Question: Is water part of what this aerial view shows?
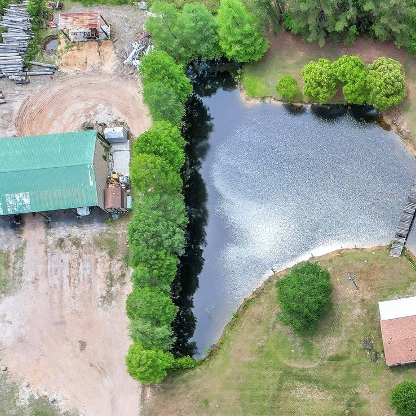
Yes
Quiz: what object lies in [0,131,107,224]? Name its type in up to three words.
barn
